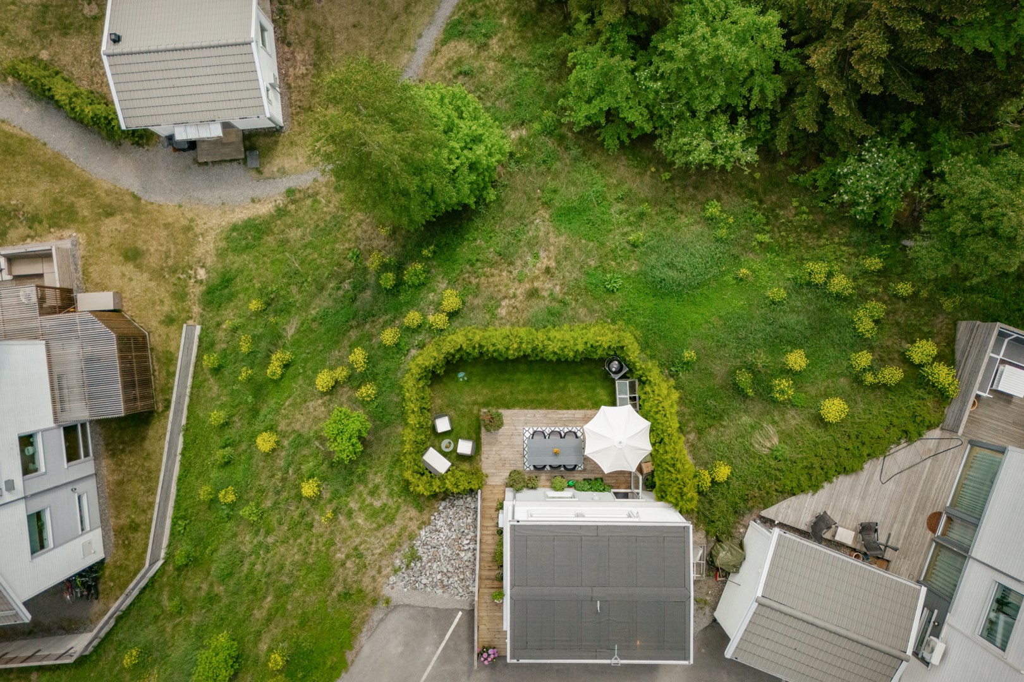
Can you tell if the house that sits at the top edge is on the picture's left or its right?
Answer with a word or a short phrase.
left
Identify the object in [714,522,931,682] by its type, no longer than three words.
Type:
building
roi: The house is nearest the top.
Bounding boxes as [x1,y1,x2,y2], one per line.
[100,0,285,137]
